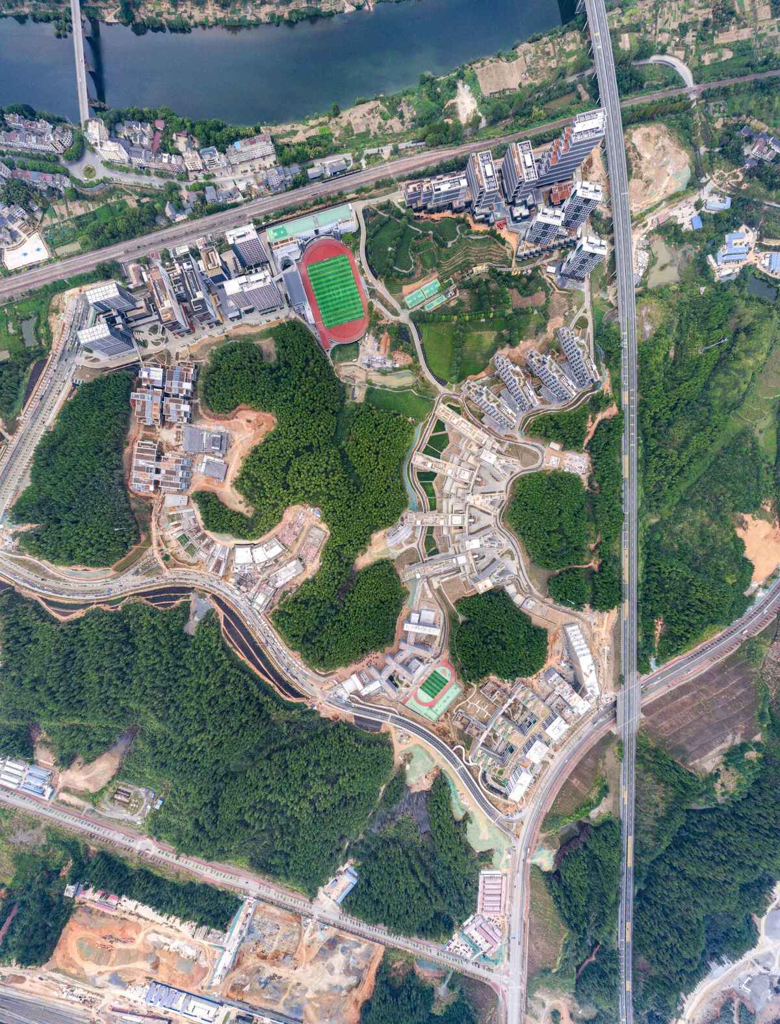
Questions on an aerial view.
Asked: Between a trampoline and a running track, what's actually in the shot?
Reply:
running track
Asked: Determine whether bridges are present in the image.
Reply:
Yes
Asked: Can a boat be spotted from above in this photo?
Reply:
No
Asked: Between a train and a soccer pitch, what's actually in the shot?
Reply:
soccer pitch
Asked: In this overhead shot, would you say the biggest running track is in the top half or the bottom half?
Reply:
top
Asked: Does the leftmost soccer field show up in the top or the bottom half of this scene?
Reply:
top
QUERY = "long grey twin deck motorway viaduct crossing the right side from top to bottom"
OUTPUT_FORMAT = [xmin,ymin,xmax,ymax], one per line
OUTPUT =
[566,0,642,1024]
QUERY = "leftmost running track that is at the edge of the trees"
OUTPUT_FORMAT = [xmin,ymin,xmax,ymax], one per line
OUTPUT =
[298,239,372,346]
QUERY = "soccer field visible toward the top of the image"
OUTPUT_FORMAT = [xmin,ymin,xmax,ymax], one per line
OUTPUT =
[307,254,364,328]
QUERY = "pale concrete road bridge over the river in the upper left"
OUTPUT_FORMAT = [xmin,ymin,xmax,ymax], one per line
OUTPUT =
[71,0,101,128]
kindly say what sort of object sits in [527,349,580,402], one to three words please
building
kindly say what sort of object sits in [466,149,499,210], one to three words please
building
